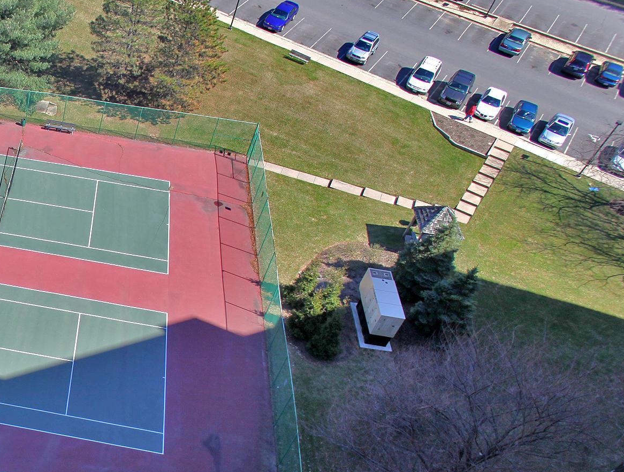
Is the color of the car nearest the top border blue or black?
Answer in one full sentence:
The color of the car nearest the top border is blue.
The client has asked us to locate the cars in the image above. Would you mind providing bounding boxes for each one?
[476,86,508,118]
[506,100,538,132]
[591,63,623,87]
[496,28,528,52]
[409,54,446,93]
[348,32,383,65]
[440,68,478,107]
[265,4,298,29]
[538,110,574,145]
[559,54,591,78]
